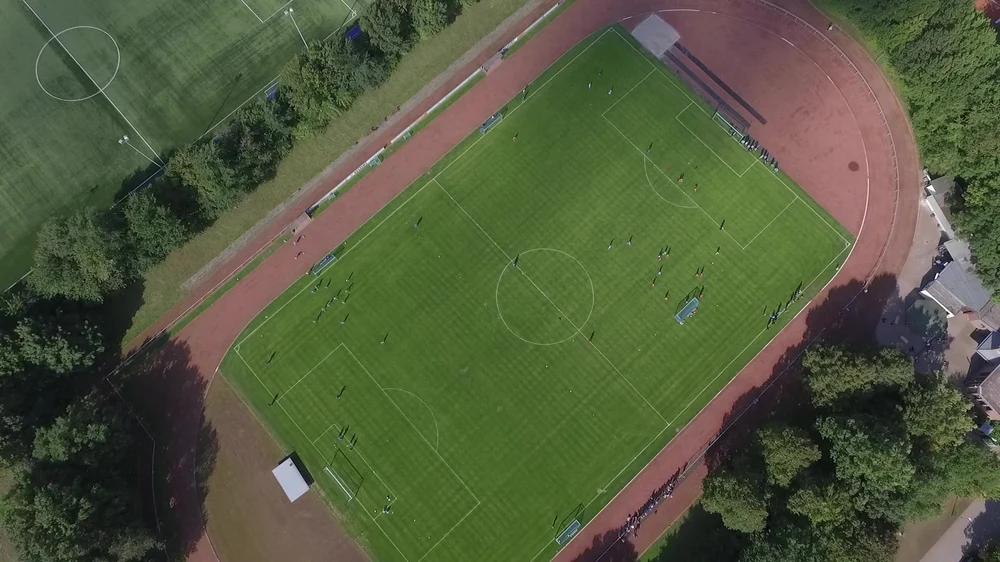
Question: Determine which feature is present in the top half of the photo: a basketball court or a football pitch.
football pitch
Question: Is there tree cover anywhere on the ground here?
Yes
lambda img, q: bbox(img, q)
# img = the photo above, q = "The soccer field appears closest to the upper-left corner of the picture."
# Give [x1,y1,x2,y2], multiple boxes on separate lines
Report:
[0,0,381,310]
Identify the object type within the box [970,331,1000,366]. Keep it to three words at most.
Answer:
building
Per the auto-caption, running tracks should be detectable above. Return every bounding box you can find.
[152,0,896,562]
